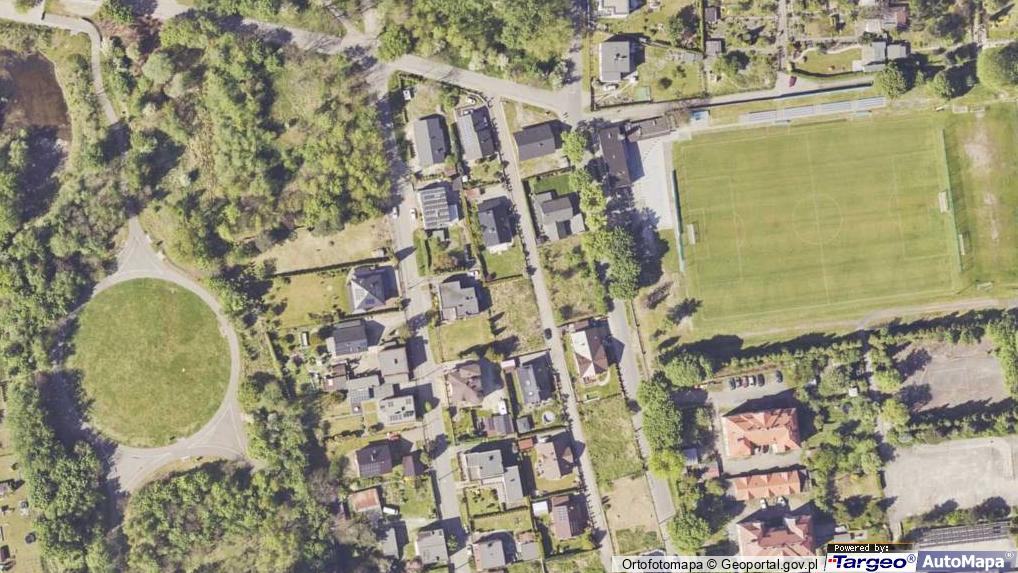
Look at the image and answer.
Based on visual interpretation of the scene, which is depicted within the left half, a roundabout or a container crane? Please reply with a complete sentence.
What appears within the left half is a roundabout.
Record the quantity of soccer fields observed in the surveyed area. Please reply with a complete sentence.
The count comes to 1 soccer field.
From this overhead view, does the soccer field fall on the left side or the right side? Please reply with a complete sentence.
You can find the soccer field on the right side of the picture.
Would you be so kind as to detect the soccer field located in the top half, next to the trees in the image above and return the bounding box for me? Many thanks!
[677,115,958,325]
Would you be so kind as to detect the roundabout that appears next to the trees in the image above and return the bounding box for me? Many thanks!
[58,214,249,495]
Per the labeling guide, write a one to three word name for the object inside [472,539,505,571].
house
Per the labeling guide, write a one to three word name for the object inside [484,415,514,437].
shed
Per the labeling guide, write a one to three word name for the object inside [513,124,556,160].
house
